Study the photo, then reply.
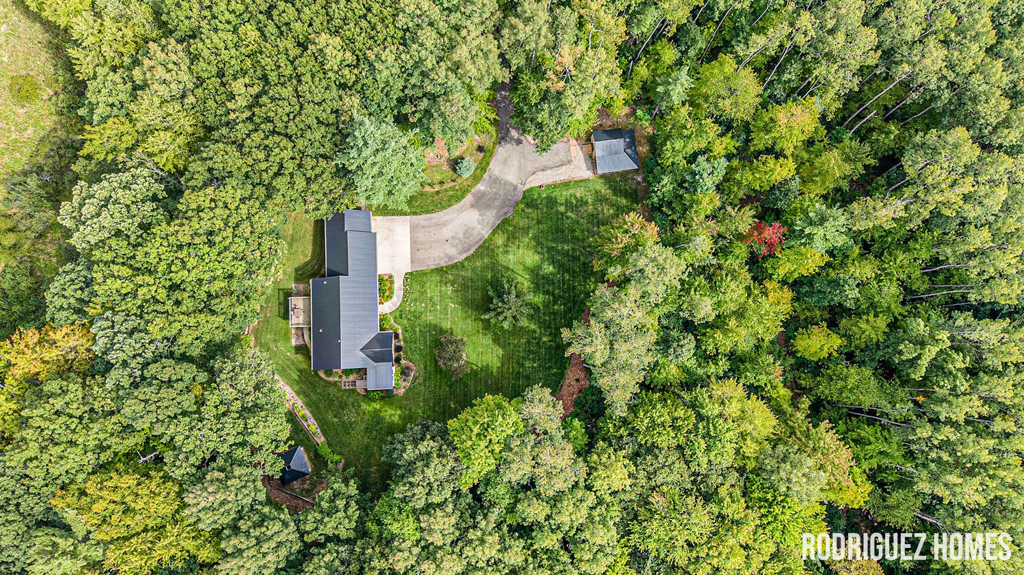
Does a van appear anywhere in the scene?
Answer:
No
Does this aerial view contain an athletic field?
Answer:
No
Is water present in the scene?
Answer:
No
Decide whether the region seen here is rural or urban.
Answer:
rural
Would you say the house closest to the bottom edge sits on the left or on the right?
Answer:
left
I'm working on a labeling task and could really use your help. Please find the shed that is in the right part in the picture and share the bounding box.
[591,128,639,176]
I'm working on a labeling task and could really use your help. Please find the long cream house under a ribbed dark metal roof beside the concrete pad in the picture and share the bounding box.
[310,209,396,391]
